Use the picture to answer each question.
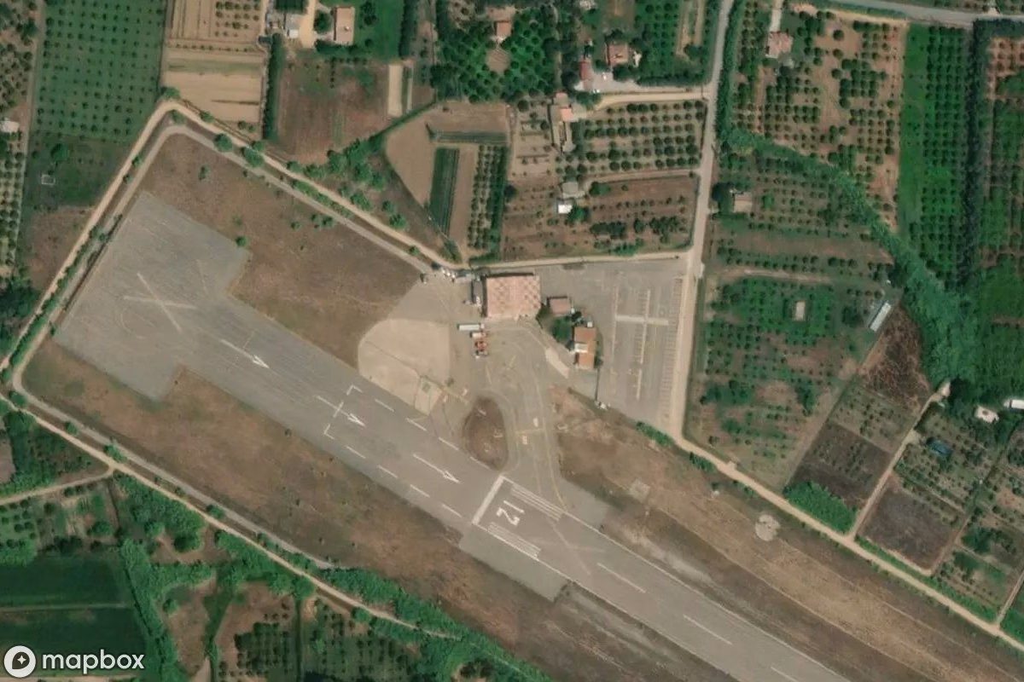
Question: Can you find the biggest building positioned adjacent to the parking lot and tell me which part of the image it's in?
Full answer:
The biggest building positioned adjacent to the parking lot is in the center part of the image.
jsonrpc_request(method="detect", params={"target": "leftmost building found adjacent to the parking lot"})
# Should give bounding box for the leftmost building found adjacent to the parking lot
[486,276,540,322]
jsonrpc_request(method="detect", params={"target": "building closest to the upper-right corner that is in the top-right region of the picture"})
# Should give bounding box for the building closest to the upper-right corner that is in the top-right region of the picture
[768,32,792,58]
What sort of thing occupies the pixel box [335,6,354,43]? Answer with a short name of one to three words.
house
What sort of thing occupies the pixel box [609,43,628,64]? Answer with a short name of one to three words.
house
